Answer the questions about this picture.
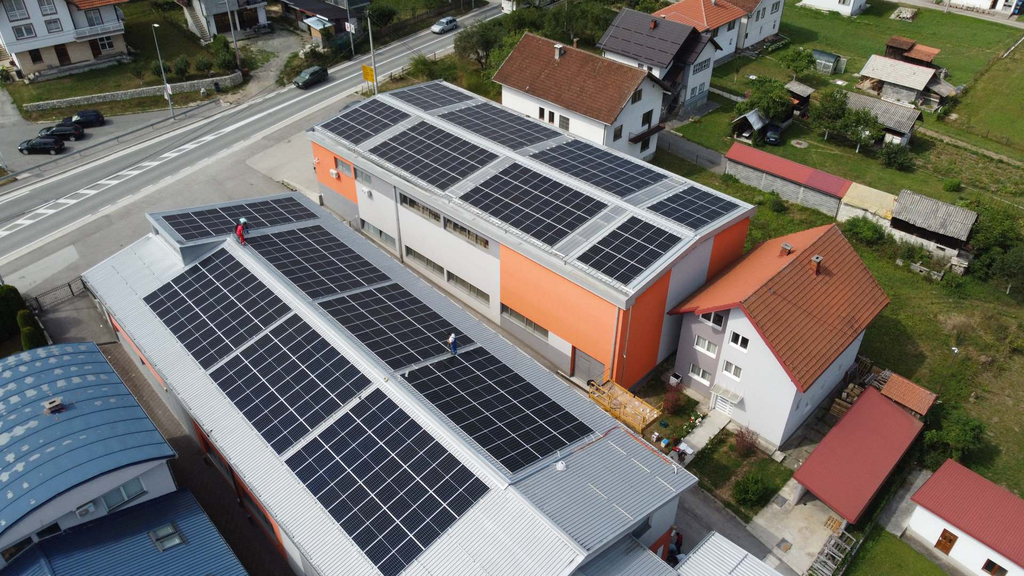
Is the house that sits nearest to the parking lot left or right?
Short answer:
left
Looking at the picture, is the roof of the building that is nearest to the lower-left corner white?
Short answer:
No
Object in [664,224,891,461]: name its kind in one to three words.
house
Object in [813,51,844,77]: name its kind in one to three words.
greenhouse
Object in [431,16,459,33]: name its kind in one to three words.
car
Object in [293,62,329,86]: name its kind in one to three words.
car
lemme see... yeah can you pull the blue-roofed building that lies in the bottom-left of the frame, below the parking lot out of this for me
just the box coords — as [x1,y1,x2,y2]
[0,343,254,576]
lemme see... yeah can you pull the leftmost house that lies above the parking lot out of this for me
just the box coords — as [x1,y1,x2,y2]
[0,0,134,82]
